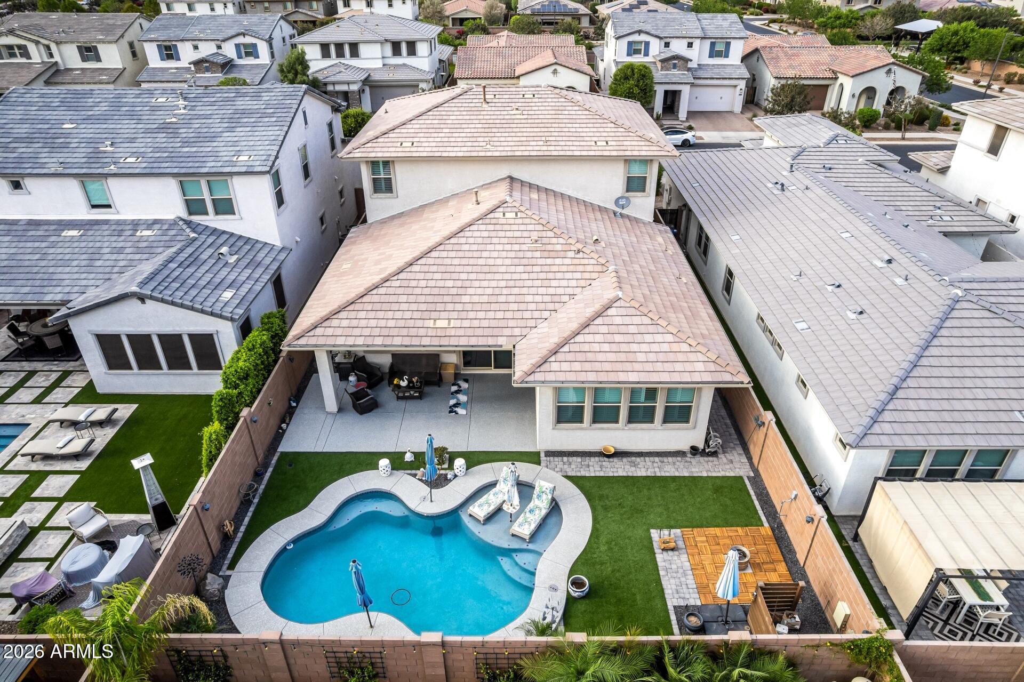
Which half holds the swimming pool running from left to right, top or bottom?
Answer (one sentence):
The swimming pool running from left to right is in the bottom half of the image.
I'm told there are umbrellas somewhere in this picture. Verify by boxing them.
[421,433,438,502]
[716,543,744,614]
[501,459,520,510]
[350,559,375,629]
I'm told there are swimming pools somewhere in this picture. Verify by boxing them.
[0,423,31,453]
[262,483,563,634]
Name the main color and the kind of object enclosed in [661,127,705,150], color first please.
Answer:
white car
